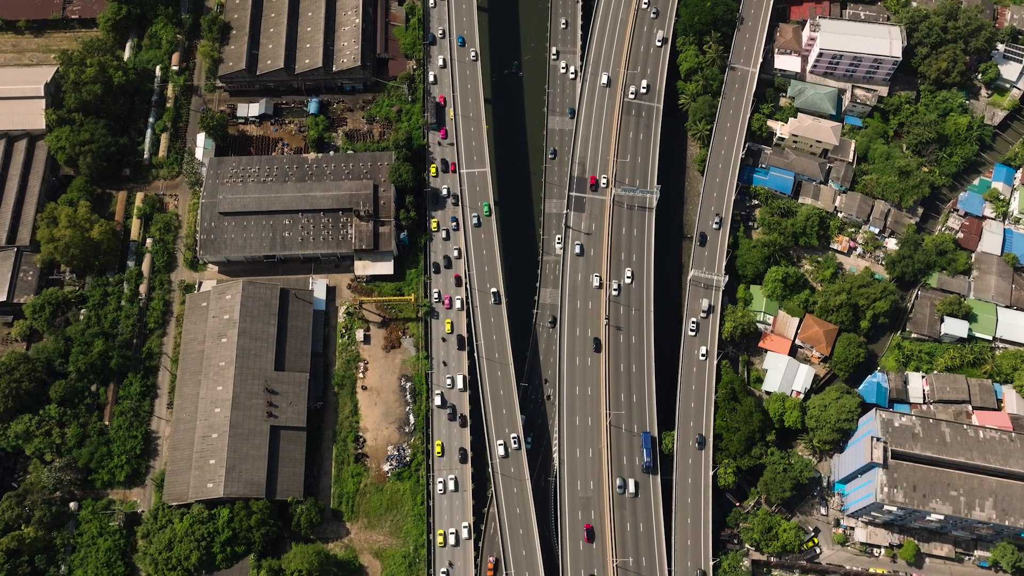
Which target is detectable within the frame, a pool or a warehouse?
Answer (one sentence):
I can see a warehouse in this picture.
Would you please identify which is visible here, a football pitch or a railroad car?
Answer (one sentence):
It is a railroad car that can be seen here.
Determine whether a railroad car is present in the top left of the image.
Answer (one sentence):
Yes, a railroad car shows up in the top left of the image.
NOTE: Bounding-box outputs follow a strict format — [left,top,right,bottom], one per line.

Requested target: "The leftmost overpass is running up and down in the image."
[447,0,544,576]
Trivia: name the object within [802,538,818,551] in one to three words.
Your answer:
vehicle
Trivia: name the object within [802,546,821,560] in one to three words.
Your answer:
vehicle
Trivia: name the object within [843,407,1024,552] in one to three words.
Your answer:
building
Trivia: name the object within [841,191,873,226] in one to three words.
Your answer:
house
